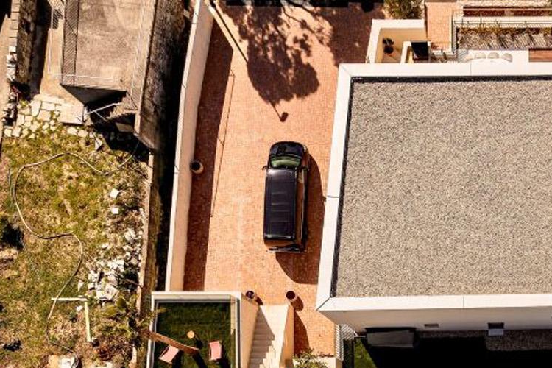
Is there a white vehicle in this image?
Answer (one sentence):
No, the picture doesn't show any white vehicle.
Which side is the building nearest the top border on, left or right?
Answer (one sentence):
The building nearest the top border appears in the left half of the scene.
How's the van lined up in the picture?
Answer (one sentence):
The van runs vertically in the image.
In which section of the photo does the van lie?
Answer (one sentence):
The van is located in the center region of the scene.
